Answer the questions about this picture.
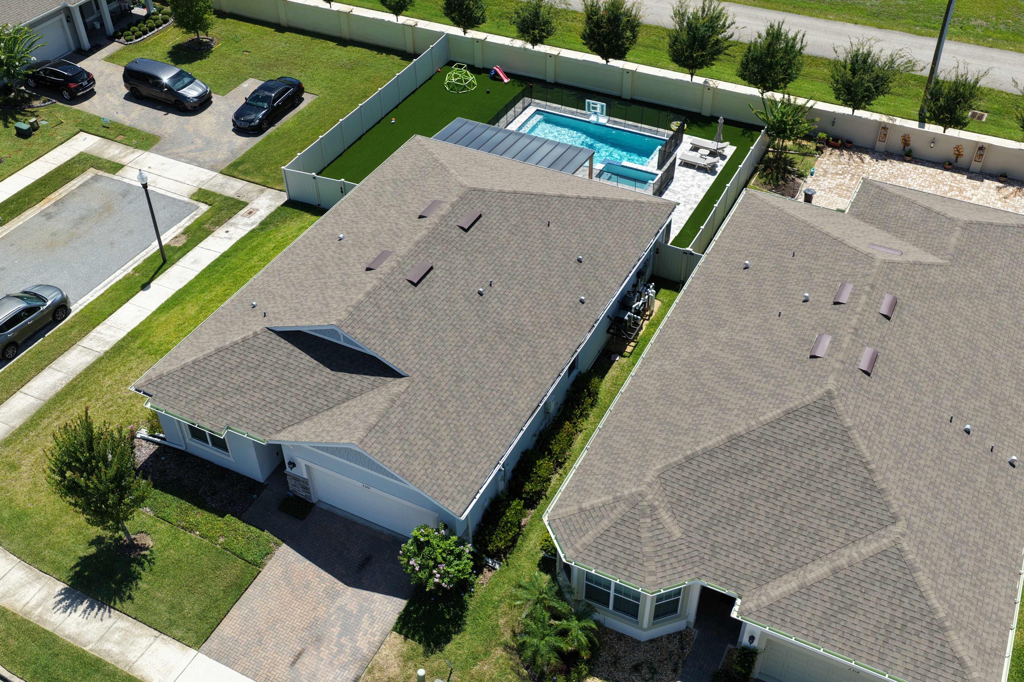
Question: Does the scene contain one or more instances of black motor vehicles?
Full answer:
Yes, the photo shows a black motor vehicle.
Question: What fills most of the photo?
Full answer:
The scene is dominated by buildings.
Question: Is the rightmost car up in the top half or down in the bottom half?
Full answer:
The top half of the photo is where the rightmost car is.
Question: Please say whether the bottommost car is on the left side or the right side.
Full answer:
It is on the left.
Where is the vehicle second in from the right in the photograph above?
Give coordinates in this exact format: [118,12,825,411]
[122,57,213,111]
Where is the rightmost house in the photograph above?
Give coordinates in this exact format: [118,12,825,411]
[543,178,1024,682]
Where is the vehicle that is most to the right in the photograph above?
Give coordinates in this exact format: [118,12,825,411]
[227,79,303,134]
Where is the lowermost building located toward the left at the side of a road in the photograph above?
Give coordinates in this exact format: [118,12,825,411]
[130,135,679,578]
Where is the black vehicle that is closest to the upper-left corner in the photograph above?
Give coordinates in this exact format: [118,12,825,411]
[22,58,99,98]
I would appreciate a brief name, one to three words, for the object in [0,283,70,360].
car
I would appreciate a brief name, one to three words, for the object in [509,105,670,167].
swimming pool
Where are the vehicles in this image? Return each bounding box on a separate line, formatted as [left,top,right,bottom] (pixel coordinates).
[227,79,303,134]
[22,58,99,98]
[122,57,213,111]
[0,283,70,360]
